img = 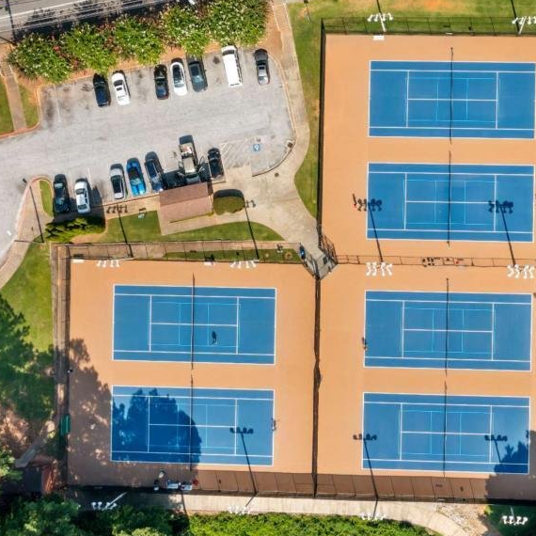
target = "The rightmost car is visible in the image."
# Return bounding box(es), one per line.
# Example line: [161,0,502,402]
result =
[254,50,270,85]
